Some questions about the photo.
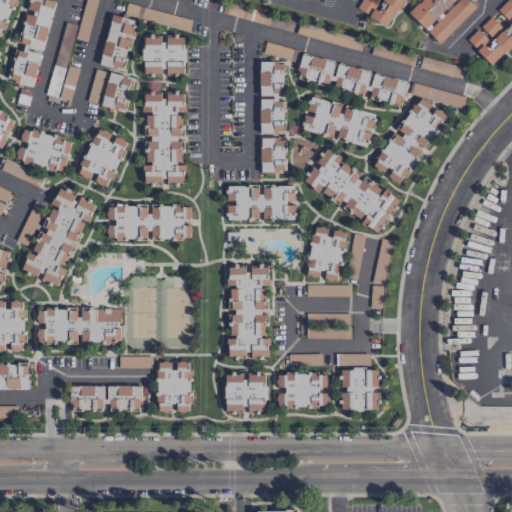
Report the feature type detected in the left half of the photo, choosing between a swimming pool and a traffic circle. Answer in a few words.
swimming pool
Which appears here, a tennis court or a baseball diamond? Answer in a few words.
tennis court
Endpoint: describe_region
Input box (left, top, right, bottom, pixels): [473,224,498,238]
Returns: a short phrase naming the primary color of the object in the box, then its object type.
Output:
white vehicle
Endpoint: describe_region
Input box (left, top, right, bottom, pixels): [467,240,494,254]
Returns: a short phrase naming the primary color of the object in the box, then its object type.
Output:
white vehicle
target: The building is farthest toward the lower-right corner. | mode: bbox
[340,368,382,412]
